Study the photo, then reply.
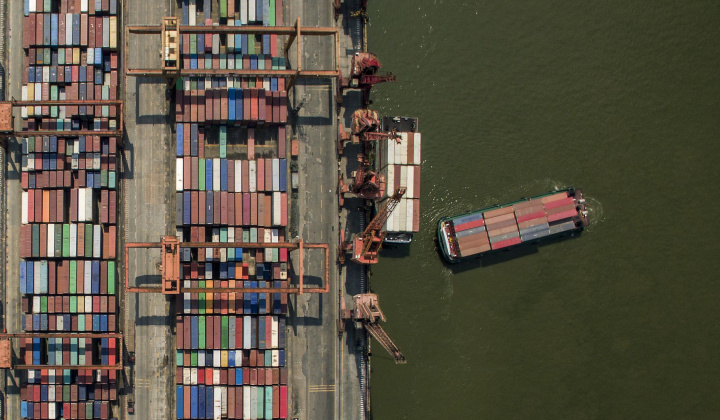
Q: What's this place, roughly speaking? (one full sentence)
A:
This looks like a port.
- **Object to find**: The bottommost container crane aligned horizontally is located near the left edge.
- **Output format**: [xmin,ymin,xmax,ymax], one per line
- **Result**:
[0,327,126,369]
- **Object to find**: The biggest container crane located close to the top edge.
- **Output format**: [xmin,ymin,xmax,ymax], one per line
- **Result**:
[126,13,339,89]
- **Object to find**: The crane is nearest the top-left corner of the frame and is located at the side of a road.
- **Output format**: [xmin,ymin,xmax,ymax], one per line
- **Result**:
[0,99,126,145]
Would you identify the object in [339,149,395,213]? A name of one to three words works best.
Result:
container crane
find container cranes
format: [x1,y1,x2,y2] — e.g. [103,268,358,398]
[339,149,395,213]
[126,13,339,89]
[339,293,409,365]
[127,233,328,295]
[339,184,410,276]
[0,99,126,145]
[339,44,401,103]
[0,327,126,369]
[339,101,407,157]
